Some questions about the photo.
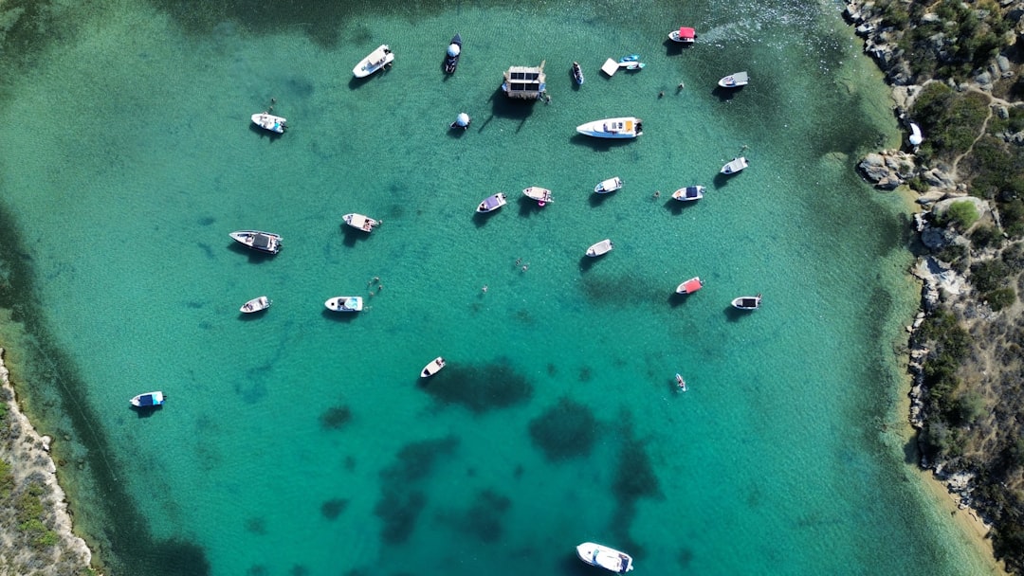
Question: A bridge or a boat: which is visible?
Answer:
boat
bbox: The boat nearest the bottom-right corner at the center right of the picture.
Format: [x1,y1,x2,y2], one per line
[731,296,762,309]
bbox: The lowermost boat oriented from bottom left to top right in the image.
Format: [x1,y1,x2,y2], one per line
[421,356,447,377]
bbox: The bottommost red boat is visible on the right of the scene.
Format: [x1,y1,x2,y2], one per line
[676,277,704,294]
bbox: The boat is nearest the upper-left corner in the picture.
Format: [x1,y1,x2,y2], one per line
[251,111,287,132]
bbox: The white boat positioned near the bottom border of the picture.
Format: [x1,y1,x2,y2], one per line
[576,543,635,575]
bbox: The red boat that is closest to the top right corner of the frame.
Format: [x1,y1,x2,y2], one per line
[668,28,698,46]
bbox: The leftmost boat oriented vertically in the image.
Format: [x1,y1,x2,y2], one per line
[444,34,461,76]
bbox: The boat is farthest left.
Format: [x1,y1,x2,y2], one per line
[131,391,169,406]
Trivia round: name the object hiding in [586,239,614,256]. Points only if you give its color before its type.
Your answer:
white boat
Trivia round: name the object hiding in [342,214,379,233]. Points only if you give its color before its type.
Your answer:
white boat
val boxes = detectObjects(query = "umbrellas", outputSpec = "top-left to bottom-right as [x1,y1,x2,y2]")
[457,115,468,126]
[447,41,459,53]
